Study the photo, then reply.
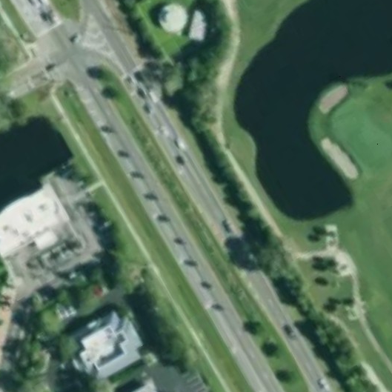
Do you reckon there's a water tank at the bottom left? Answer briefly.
No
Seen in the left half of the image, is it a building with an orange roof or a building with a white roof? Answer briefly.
building with a white roof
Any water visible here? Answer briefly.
Yes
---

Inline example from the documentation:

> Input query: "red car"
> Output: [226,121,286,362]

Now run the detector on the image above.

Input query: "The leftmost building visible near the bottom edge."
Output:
[68,312,143,379]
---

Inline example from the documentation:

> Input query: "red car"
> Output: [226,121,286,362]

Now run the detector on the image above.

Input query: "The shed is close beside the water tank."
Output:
[188,10,205,42]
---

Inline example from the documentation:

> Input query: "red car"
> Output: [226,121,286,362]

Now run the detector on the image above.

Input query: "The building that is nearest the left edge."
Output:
[0,183,69,258]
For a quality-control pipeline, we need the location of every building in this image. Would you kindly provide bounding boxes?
[188,10,205,42]
[135,379,157,392]
[0,183,69,258]
[68,312,143,379]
